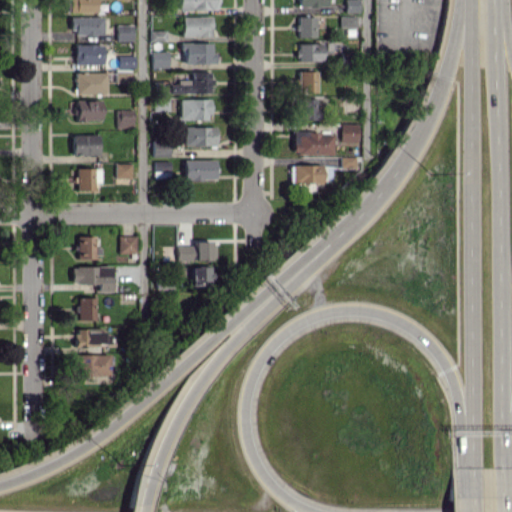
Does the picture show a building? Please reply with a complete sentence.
Yes, a building can be made out from above.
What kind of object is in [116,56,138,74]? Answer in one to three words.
building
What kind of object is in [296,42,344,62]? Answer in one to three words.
house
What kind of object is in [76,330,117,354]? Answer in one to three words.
house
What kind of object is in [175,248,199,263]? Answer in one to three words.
building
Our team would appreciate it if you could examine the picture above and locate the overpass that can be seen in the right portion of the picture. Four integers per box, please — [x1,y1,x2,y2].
[448,425,512,512]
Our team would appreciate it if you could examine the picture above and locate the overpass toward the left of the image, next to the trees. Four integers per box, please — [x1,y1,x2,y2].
[128,329,248,512]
